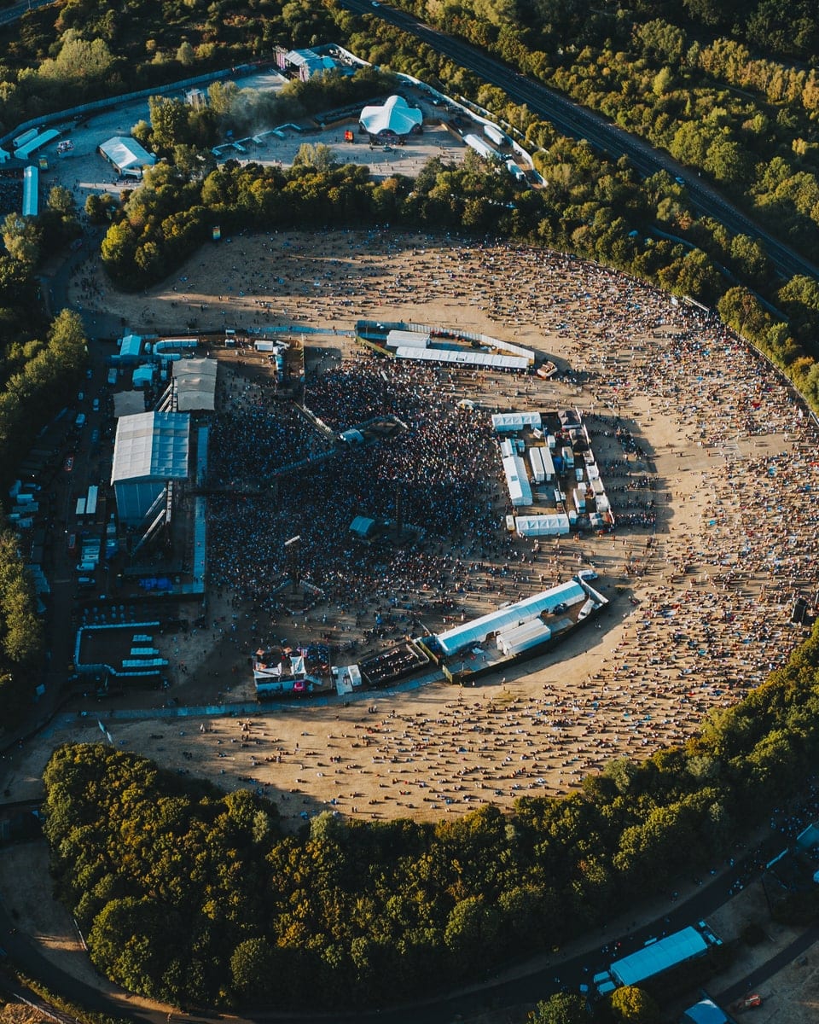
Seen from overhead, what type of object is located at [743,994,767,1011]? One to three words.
work vehicle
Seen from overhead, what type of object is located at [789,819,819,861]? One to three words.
tent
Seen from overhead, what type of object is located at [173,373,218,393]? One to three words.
tent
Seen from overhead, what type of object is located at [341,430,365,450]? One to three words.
building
